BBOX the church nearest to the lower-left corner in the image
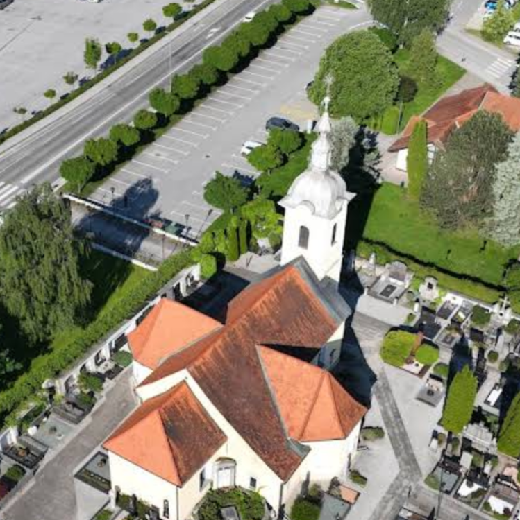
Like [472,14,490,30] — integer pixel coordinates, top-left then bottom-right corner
[100,71,368,520]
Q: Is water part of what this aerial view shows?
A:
No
